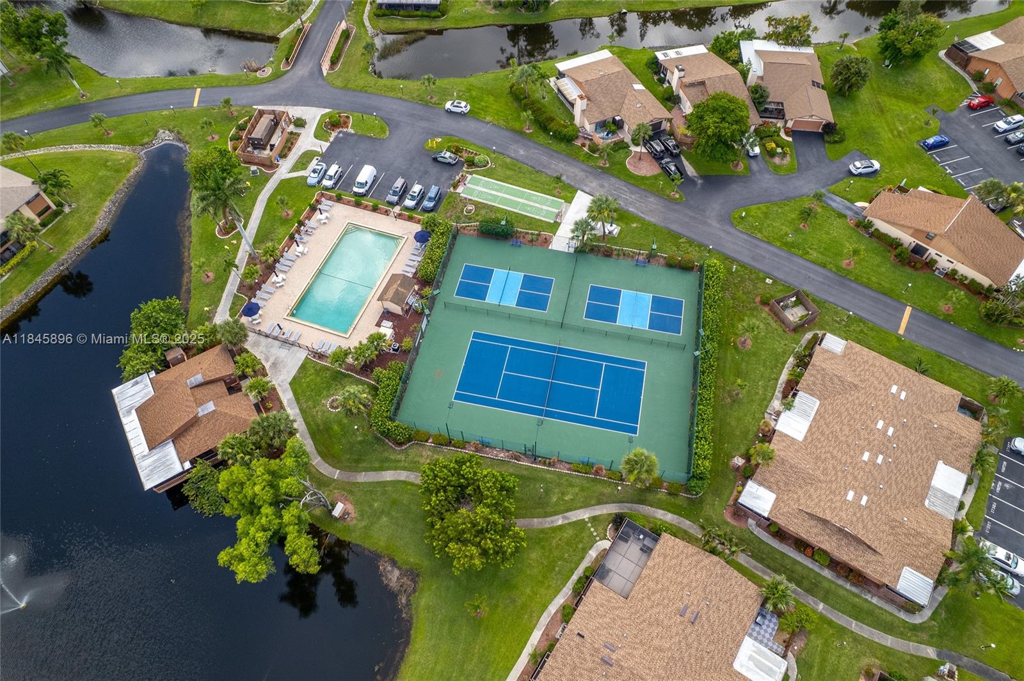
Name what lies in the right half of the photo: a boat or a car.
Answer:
car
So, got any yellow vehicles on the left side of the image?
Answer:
No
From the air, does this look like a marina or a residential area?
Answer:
residential area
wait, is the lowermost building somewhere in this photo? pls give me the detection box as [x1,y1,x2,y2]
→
[531,518,789,681]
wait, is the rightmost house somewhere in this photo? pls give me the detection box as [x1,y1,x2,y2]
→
[945,16,1024,107]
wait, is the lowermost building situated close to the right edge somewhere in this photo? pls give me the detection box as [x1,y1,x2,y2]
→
[733,332,985,611]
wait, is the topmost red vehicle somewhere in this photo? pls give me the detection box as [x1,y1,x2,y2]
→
[967,96,996,110]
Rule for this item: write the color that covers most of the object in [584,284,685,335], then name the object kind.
blue sports court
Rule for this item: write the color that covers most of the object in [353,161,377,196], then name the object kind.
white vehicle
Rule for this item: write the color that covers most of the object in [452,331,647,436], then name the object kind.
blue tennis court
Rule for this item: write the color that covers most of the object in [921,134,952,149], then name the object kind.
blue car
